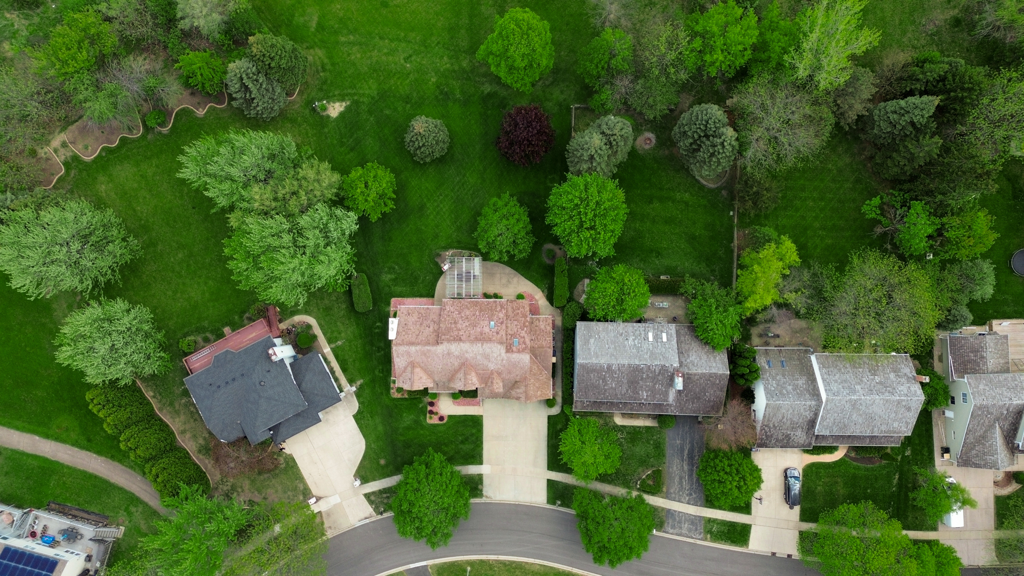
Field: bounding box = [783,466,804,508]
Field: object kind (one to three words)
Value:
car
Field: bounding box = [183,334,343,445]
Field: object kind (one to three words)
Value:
house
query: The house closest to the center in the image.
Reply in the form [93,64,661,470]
[389,299,553,403]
